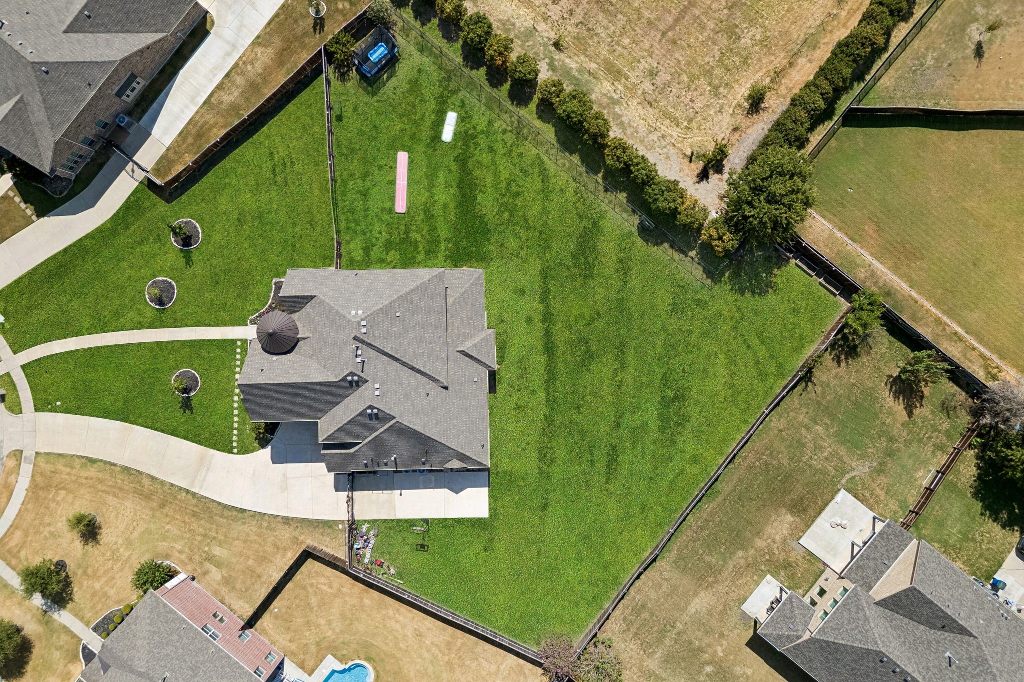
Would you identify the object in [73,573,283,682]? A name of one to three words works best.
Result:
house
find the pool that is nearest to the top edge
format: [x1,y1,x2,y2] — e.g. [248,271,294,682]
[363,40,387,64]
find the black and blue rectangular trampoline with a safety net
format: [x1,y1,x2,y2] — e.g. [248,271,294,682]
[349,22,399,79]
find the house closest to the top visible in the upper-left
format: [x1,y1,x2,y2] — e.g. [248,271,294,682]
[0,0,215,178]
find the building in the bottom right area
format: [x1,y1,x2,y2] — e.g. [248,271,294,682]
[755,515,1024,682]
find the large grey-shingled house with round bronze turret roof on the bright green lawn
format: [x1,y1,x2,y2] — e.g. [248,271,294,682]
[238,267,498,473]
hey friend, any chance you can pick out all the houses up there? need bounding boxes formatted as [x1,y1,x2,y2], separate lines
[238,267,498,473]
[0,0,215,178]
[73,573,283,682]
[755,515,1024,682]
